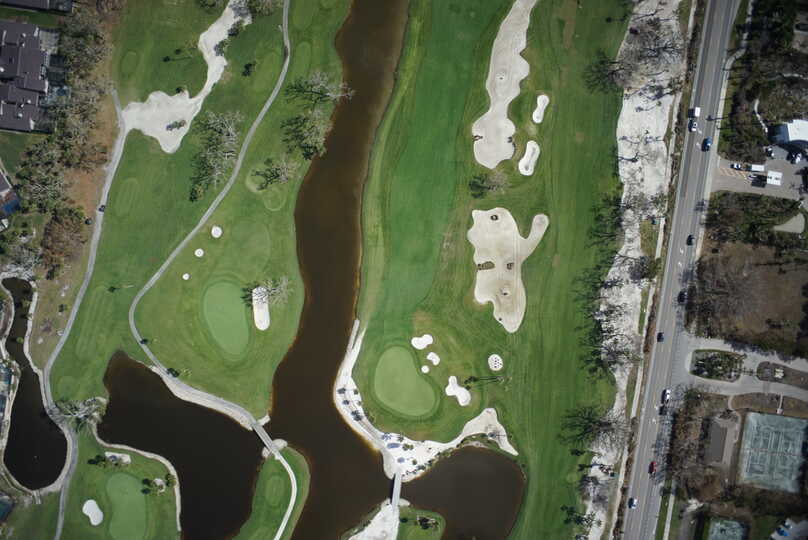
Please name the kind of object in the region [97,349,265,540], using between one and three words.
pond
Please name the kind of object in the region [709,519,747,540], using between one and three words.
sports court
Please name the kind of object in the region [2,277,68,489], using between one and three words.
pond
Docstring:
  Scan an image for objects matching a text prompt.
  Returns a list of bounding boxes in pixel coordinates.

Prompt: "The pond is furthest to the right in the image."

[399,445,525,540]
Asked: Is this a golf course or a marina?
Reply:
golf course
